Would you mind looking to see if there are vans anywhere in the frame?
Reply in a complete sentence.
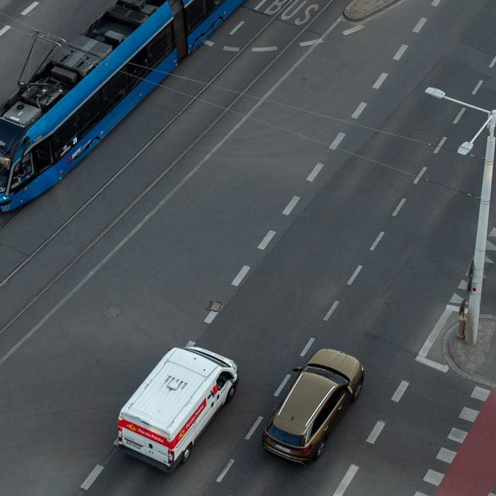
Yes, looking at the shot, I can spot a van.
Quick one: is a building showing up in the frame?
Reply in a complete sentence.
No, the photo shows no building.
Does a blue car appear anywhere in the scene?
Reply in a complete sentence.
No, there isn't any blue car down there.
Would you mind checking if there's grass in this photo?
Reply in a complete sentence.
No, the picture contains no grass.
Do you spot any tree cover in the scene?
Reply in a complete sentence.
No, there's no tree cover in this view.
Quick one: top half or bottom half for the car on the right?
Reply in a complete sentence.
The car on the right sits in the bottom half of the picture.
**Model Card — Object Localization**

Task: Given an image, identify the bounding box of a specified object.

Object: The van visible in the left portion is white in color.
[112,341,243,482]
